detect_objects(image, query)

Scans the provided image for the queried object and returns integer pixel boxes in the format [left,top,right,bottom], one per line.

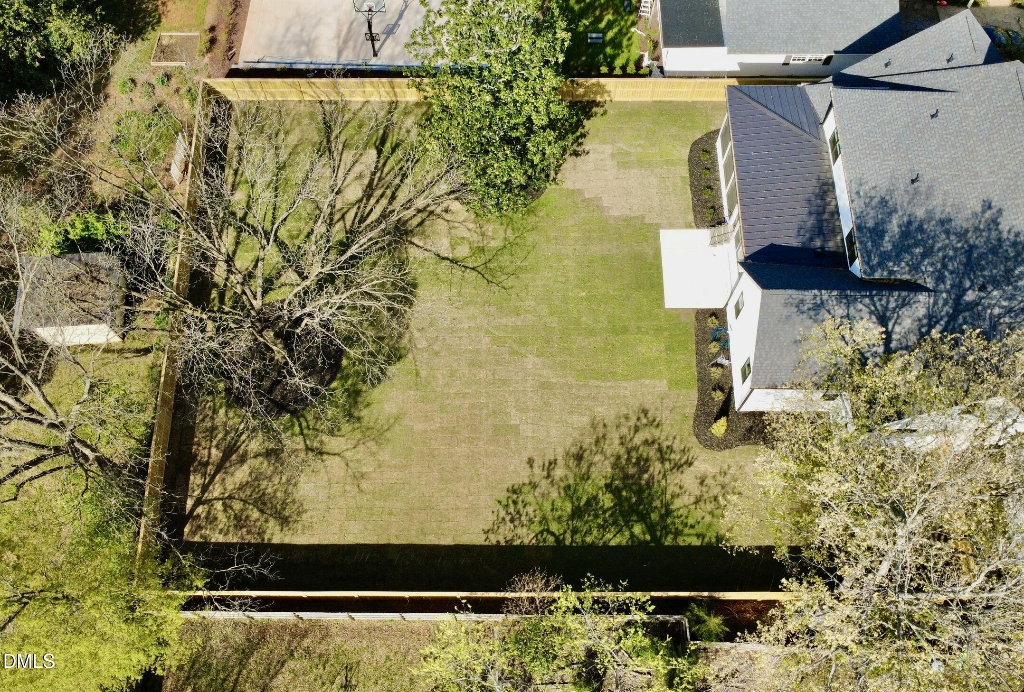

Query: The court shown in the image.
[232,0,592,68]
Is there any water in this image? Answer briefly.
No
